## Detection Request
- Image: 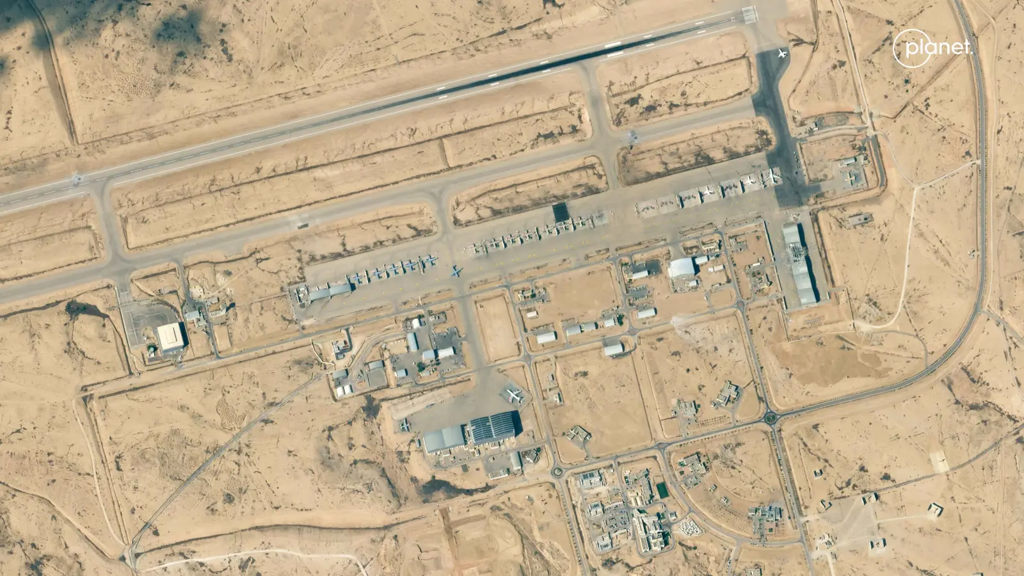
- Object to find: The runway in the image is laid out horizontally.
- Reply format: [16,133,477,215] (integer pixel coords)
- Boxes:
[0,0,788,219]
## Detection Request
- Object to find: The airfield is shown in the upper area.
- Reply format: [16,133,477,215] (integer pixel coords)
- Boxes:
[0,0,868,432]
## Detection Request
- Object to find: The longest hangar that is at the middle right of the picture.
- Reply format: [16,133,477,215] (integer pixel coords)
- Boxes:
[782,223,817,307]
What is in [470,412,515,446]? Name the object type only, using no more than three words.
hangar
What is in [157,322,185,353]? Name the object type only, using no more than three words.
hangar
